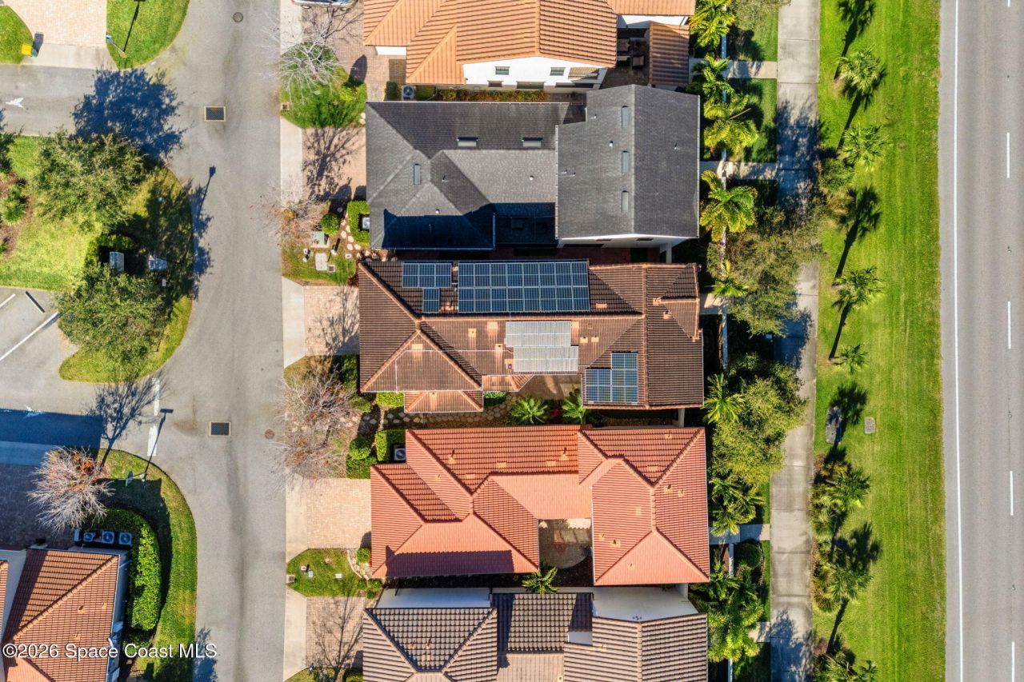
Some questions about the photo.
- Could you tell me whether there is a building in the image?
Yes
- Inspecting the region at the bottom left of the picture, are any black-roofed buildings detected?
No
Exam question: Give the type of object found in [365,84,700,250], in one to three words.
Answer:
house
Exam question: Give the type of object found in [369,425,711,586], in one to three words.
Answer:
house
